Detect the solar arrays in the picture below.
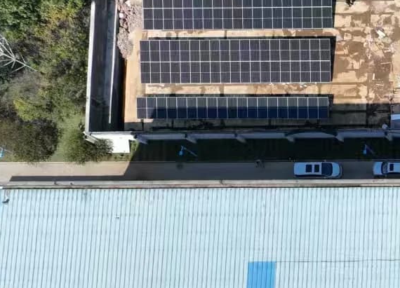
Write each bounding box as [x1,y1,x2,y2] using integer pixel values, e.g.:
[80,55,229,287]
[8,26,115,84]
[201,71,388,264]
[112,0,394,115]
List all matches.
[143,0,332,29]
[137,97,329,119]
[139,39,330,83]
